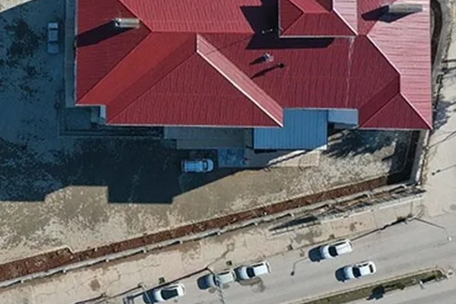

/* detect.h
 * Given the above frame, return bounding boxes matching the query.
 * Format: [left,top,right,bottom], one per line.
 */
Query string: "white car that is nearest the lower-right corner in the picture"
[342,258,376,279]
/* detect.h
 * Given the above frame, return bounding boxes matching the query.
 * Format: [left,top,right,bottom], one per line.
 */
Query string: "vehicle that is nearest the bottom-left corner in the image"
[152,281,185,302]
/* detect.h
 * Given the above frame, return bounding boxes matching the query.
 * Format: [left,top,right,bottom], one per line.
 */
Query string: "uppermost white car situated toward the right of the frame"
[320,239,353,258]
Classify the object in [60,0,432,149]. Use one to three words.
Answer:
building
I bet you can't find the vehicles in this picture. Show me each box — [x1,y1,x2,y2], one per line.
[238,259,270,279]
[46,22,60,54]
[208,268,239,286]
[342,258,376,279]
[152,281,185,302]
[320,239,353,258]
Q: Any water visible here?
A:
No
